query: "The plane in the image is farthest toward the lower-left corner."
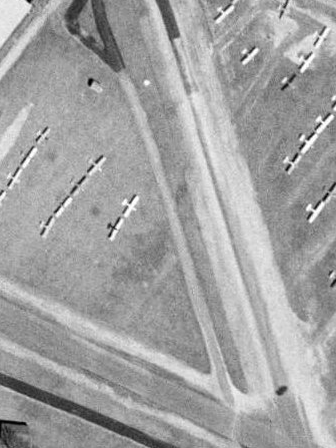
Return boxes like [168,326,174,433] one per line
[39,218,55,237]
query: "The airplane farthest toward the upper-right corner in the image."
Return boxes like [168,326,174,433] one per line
[312,28,329,48]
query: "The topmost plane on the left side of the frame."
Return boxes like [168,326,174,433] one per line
[33,129,49,145]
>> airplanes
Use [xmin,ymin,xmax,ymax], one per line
[70,177,88,196]
[121,197,139,216]
[39,218,55,237]
[285,156,302,174]
[52,197,72,216]
[88,156,106,174]
[306,204,324,222]
[105,218,123,240]
[33,129,49,145]
[19,148,37,168]
[282,76,298,93]
[316,114,334,133]
[5,170,22,188]
[297,53,316,73]
[274,0,291,21]
[321,184,336,204]
[0,192,6,205]
[299,134,318,153]
[215,5,234,23]
[242,48,259,64]
[312,28,329,48]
